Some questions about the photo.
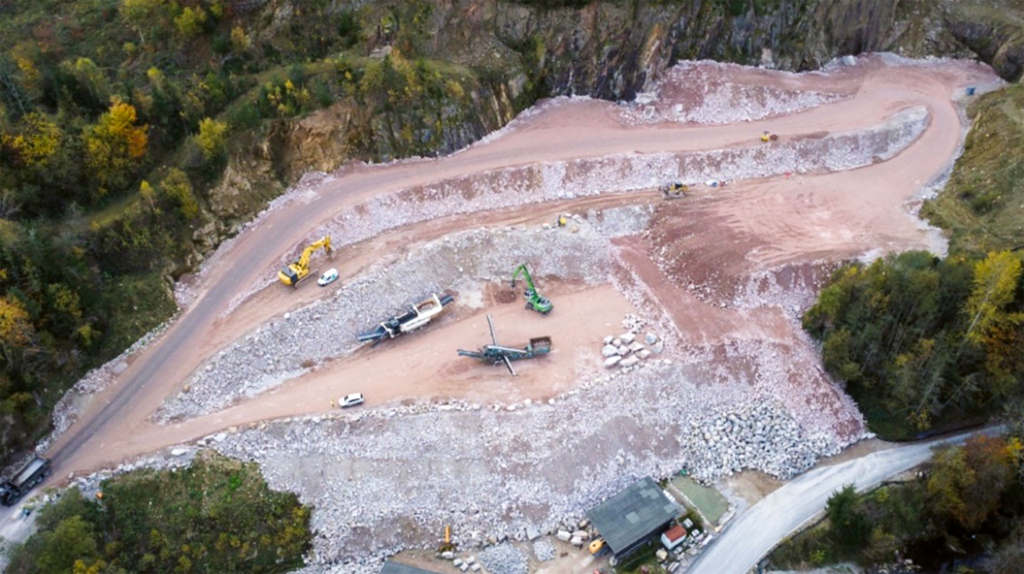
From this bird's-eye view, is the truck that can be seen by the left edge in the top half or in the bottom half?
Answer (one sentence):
Seen from above, the truck that can be seen by the left edge lies in the bottom half of the view.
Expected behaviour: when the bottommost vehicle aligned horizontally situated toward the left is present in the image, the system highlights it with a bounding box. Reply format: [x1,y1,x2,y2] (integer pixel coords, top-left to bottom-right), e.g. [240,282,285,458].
[338,393,364,408]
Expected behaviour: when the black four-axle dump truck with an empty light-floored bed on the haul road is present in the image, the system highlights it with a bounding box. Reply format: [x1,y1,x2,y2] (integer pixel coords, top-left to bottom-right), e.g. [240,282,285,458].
[0,448,52,505]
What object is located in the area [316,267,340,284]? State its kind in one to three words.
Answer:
vehicle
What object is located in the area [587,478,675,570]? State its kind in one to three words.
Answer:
shed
